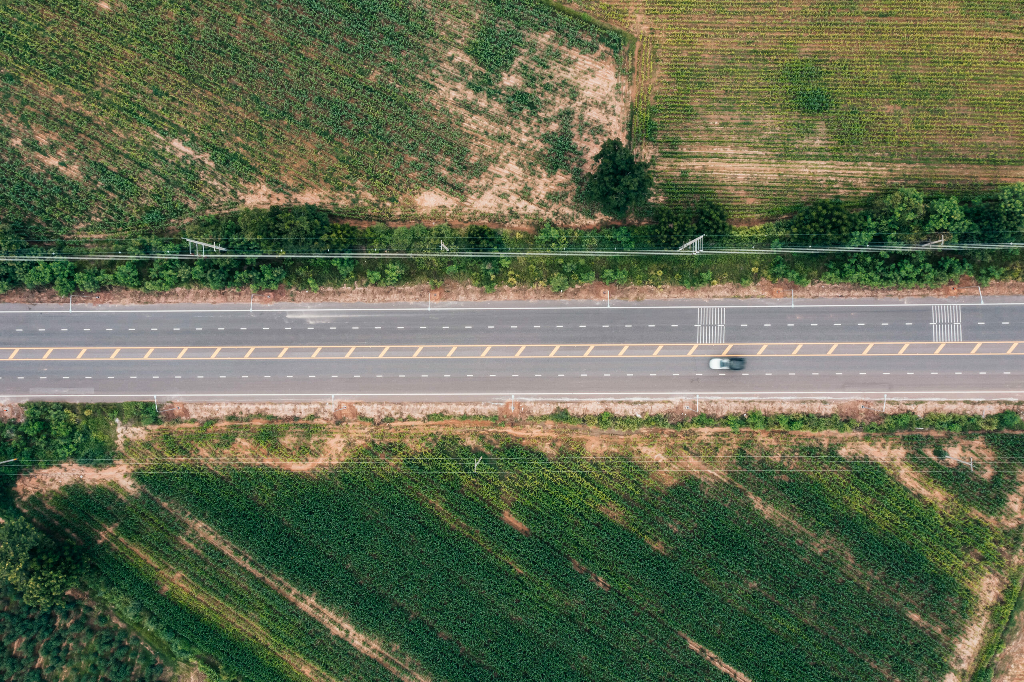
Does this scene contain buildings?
No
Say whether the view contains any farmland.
Yes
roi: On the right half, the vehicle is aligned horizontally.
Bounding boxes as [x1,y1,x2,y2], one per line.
[709,357,746,370]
